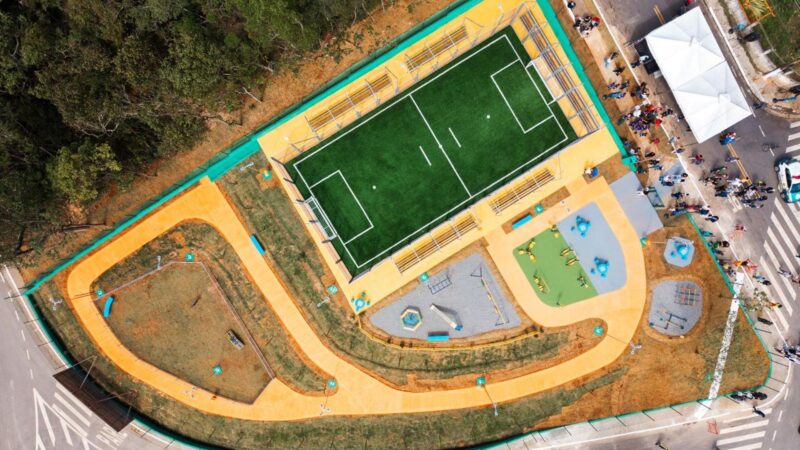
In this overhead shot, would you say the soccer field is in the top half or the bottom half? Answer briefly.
top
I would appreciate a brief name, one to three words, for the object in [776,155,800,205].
car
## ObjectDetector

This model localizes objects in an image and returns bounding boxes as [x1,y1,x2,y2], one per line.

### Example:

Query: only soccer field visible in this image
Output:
[257,0,620,312]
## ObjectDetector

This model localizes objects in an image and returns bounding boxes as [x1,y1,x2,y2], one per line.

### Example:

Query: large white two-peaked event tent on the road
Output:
[628,6,752,148]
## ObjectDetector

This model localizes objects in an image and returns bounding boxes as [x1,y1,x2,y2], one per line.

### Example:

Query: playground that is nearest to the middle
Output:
[368,251,520,338]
